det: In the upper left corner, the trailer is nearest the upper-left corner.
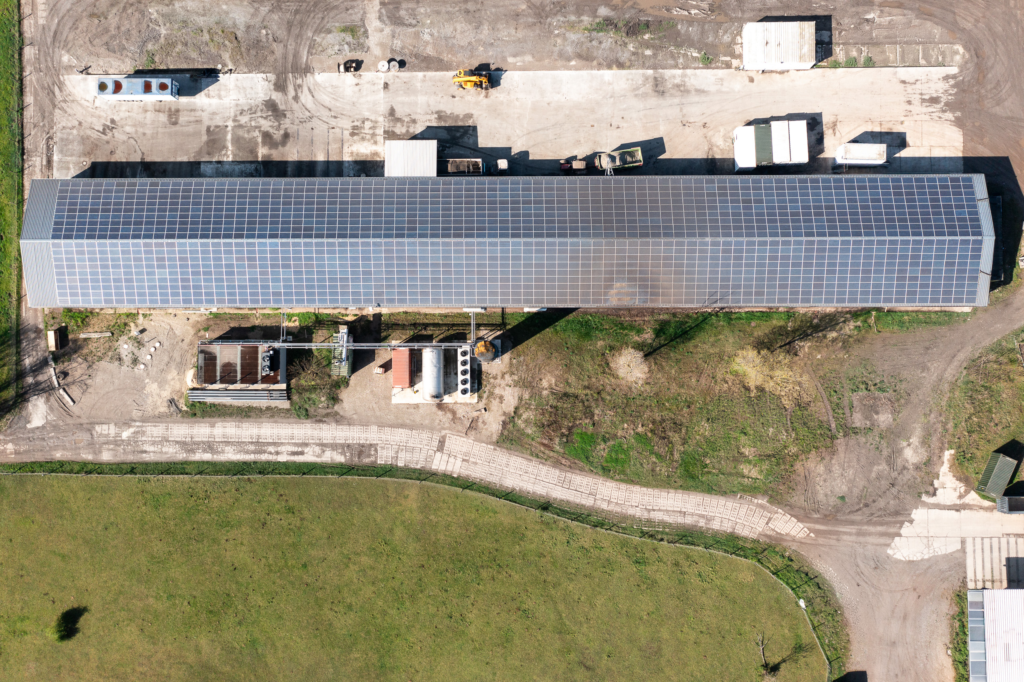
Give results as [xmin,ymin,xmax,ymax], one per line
[97,78,181,103]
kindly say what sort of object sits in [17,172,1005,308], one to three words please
barn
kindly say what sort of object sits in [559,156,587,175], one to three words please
work vehicle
